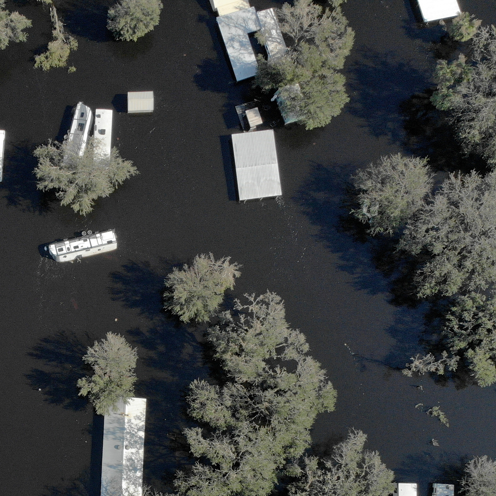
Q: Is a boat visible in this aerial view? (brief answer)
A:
No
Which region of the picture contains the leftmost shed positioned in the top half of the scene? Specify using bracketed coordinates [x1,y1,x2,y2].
[128,92,154,114]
